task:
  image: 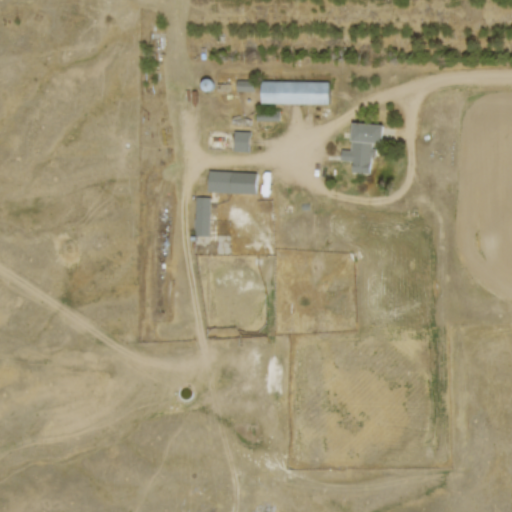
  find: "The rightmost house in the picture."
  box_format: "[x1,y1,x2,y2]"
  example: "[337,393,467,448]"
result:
[341,124,384,173]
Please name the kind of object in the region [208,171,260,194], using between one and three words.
building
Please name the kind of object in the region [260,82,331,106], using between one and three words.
barn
